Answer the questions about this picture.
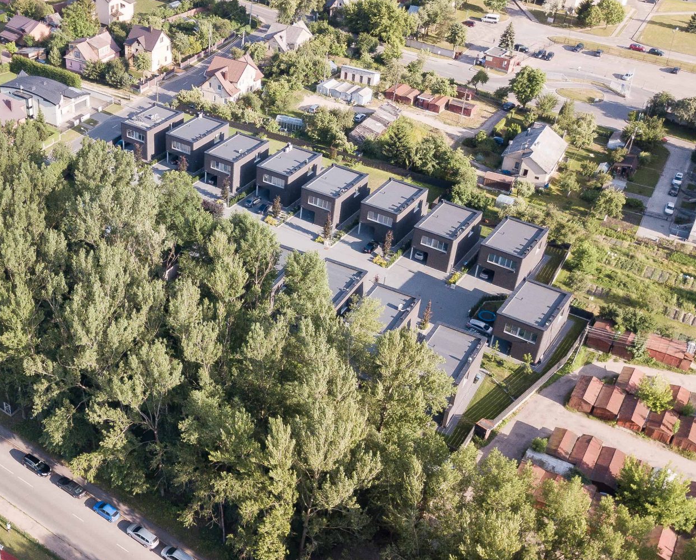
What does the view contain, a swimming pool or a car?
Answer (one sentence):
It is a car that can be seen here.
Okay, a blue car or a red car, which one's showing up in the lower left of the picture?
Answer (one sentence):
Visible in the lower left of the picture is a blue car.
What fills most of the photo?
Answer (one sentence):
Most of the picture is covered by trees.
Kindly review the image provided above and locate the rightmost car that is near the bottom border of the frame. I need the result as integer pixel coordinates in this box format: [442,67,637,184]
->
[161,543,198,560]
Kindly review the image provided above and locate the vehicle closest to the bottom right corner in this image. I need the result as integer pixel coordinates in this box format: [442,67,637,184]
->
[465,317,492,337]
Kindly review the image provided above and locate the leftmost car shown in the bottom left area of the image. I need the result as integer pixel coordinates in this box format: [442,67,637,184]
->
[21,452,53,478]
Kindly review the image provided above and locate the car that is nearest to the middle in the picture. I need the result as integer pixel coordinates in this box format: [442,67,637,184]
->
[363,240,382,254]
